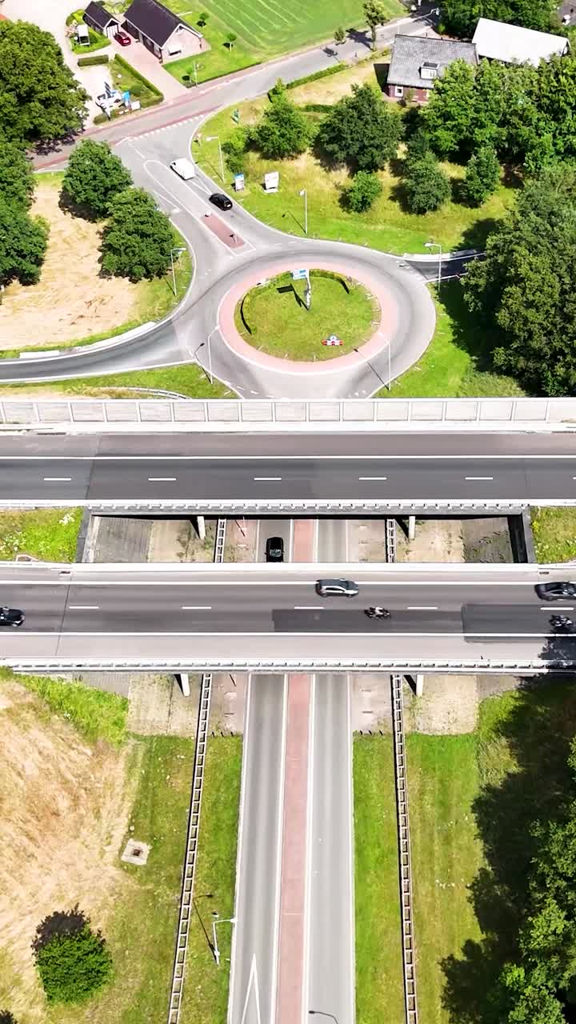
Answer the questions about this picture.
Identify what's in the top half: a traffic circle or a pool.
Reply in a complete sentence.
Looking in the top half, you will find a traffic circle.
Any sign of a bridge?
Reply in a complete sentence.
Yes, a bridge is visible in the scene.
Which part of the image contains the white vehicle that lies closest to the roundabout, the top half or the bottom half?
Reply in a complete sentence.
It is in the top half that the white vehicle that lies closest to the roundabout appears.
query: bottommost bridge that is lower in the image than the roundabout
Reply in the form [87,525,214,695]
[0,561,576,699]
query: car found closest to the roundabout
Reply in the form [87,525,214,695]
[211,192,232,209]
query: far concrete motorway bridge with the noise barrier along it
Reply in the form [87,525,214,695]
[0,423,576,539]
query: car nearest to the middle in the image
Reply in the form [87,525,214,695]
[265,536,284,561]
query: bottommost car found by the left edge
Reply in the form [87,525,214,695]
[0,604,25,625]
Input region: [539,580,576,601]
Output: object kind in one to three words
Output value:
car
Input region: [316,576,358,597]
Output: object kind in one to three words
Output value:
car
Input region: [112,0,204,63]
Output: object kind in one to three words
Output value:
house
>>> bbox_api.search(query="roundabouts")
[180,242,437,397]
